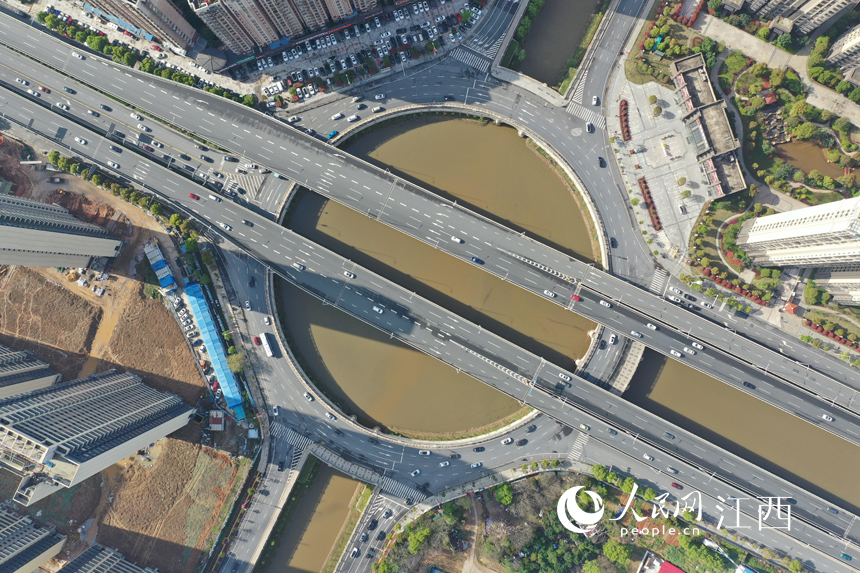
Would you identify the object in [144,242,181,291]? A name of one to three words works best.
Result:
shed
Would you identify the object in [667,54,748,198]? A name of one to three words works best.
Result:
building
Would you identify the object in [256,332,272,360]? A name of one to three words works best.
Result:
vehicle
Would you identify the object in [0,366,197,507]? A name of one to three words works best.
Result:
building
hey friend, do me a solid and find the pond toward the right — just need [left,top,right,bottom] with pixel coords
[773,139,860,179]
